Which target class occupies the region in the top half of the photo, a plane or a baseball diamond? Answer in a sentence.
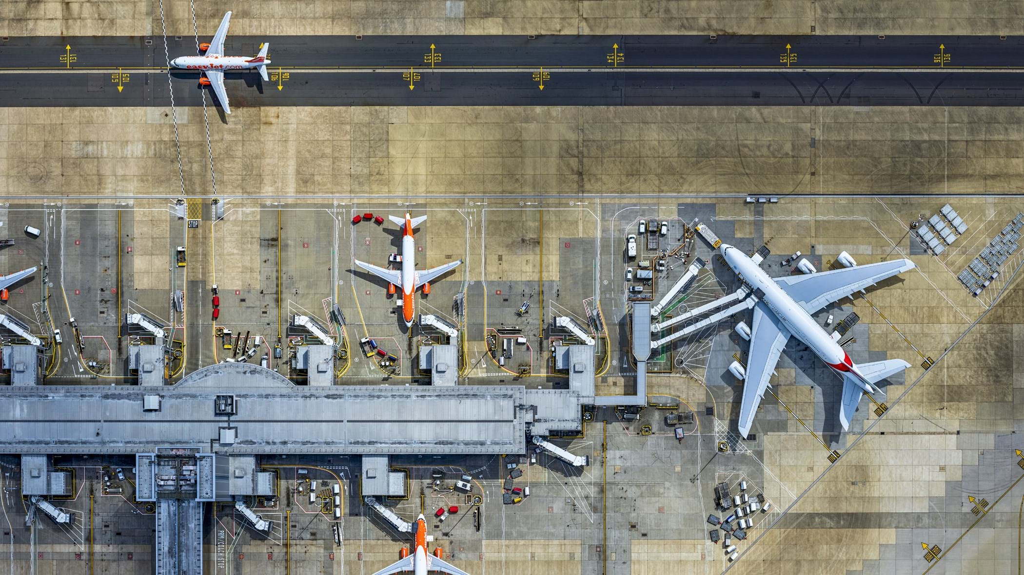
The one visible in the top half of the photo is a plane.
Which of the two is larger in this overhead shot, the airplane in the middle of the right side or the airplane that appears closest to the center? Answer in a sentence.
Compared with the airplane that appears closest to the center, the airplane in the middle of the right side is the bigger one.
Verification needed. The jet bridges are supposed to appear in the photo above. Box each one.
[651,258,705,316]
[532,436,588,466]
[554,316,595,345]
[31,495,78,523]
[365,496,416,533]
[420,314,458,337]
[0,311,48,346]
[651,290,765,349]
[126,313,169,337]
[293,315,335,345]
[235,499,274,532]
[651,282,752,333]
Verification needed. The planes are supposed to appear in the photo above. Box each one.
[0,267,37,301]
[354,213,461,327]
[375,513,469,575]
[719,244,921,441]
[171,9,272,113]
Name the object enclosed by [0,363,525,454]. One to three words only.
building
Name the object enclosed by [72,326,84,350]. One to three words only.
vehicle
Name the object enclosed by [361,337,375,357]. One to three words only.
vehicle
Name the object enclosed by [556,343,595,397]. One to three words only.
building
